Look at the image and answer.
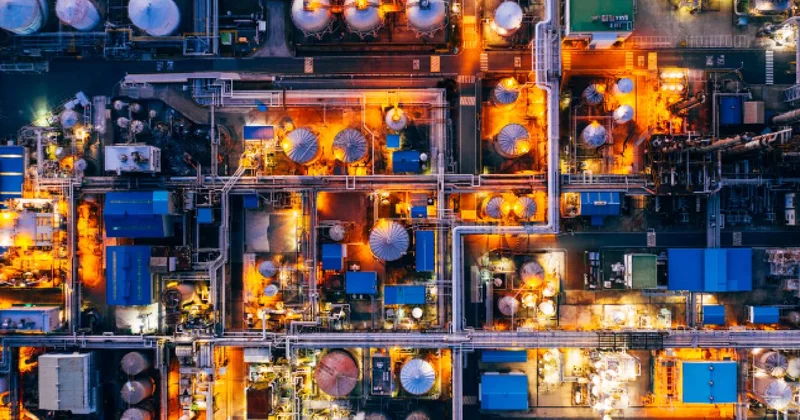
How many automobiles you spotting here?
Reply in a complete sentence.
The photo contains no automobiles.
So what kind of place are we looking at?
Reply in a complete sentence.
The area seen from above is an industrial area.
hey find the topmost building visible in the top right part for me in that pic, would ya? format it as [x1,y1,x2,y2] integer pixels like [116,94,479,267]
[560,0,634,37]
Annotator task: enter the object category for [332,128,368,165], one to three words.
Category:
storage tank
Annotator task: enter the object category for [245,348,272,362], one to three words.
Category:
building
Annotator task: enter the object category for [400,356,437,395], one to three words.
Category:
storage tank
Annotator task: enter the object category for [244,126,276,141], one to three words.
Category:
building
